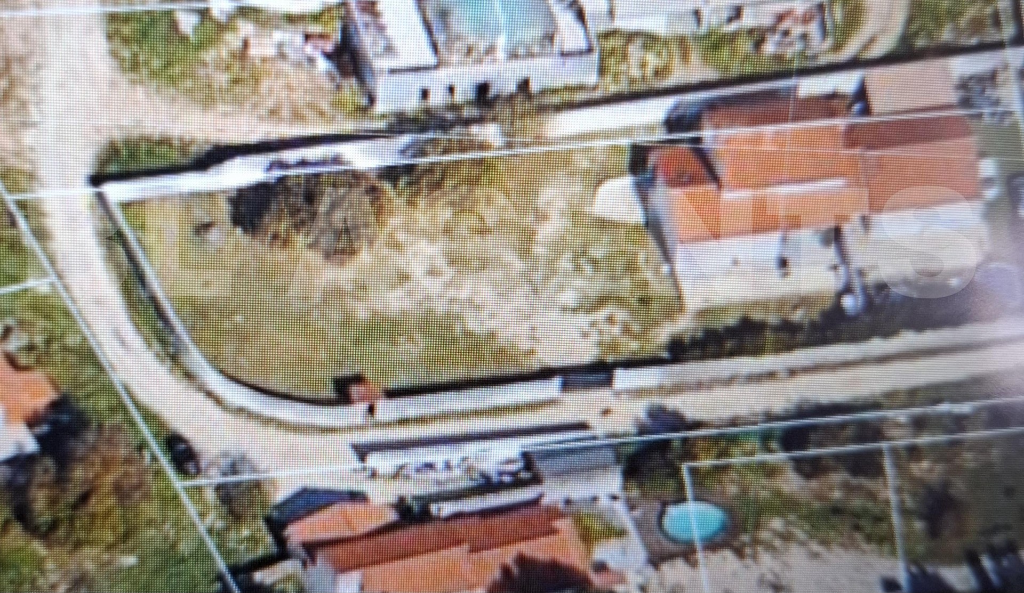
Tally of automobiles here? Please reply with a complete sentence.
The picture shows 1 automobile.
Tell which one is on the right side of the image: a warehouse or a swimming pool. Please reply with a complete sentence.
It is a swimming pool that can be seen on the right side of the image.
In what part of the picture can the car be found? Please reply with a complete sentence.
The car sits in the bottom left section of the image.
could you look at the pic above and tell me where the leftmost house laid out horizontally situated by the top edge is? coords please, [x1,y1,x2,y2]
[338,0,593,110]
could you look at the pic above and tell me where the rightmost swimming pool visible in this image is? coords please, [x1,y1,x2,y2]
[657,498,732,551]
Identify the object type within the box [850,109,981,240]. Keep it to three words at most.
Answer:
house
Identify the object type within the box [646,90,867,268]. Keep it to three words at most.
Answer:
house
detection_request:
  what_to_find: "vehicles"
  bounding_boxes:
[160,427,205,480]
